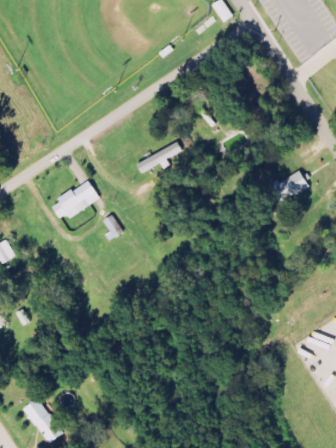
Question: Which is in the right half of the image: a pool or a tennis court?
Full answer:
The feature located in the right half of the image is a pool.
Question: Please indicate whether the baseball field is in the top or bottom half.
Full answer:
It is in the top half that the baseball field appears.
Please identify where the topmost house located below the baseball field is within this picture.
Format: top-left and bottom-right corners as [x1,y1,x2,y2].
[136,142,183,173]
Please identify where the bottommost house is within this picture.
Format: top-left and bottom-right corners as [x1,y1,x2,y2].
[23,402,64,446]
